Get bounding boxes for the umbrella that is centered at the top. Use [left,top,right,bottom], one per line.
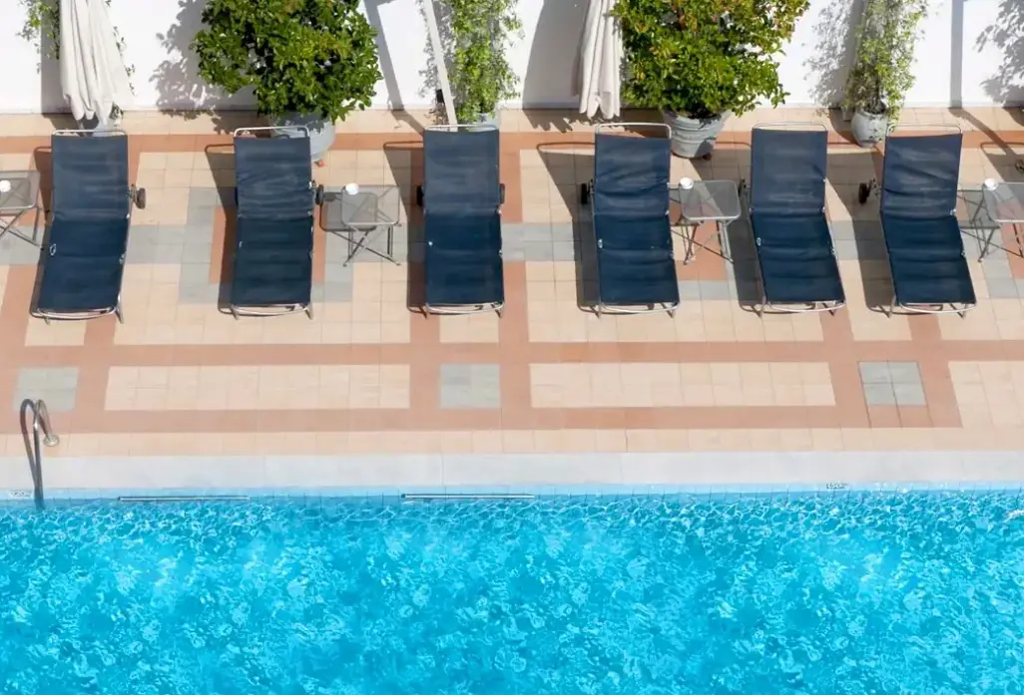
[579,0,627,134]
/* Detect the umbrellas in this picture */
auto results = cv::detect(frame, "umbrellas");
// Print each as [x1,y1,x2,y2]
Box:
[59,0,138,136]
[579,0,627,134]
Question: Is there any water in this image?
Yes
